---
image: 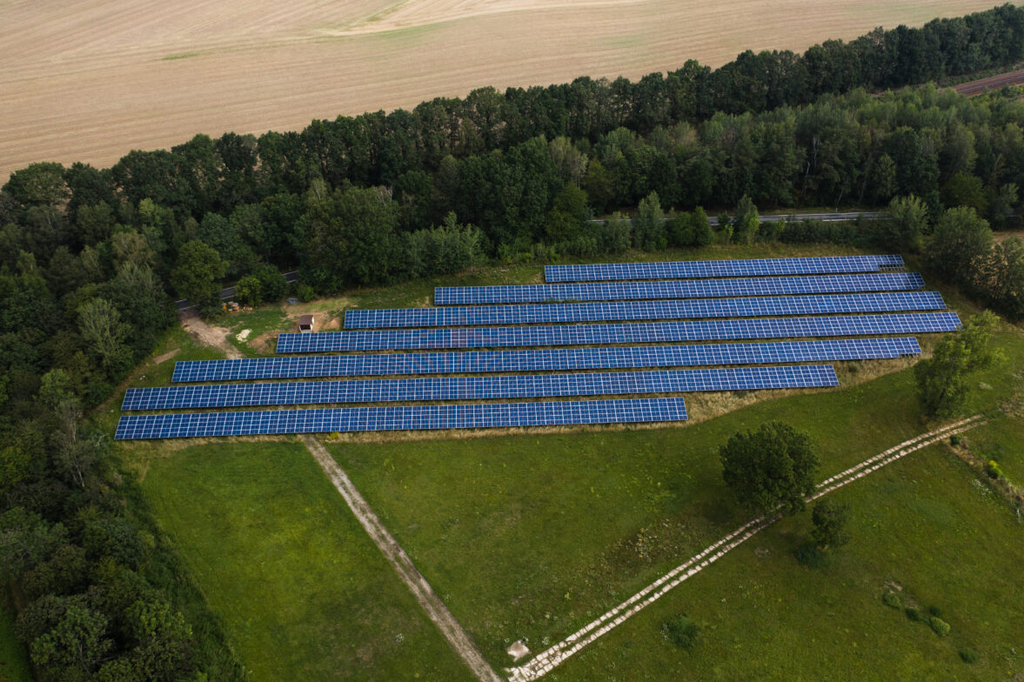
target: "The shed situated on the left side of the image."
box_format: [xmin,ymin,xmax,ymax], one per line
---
[296,312,314,332]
